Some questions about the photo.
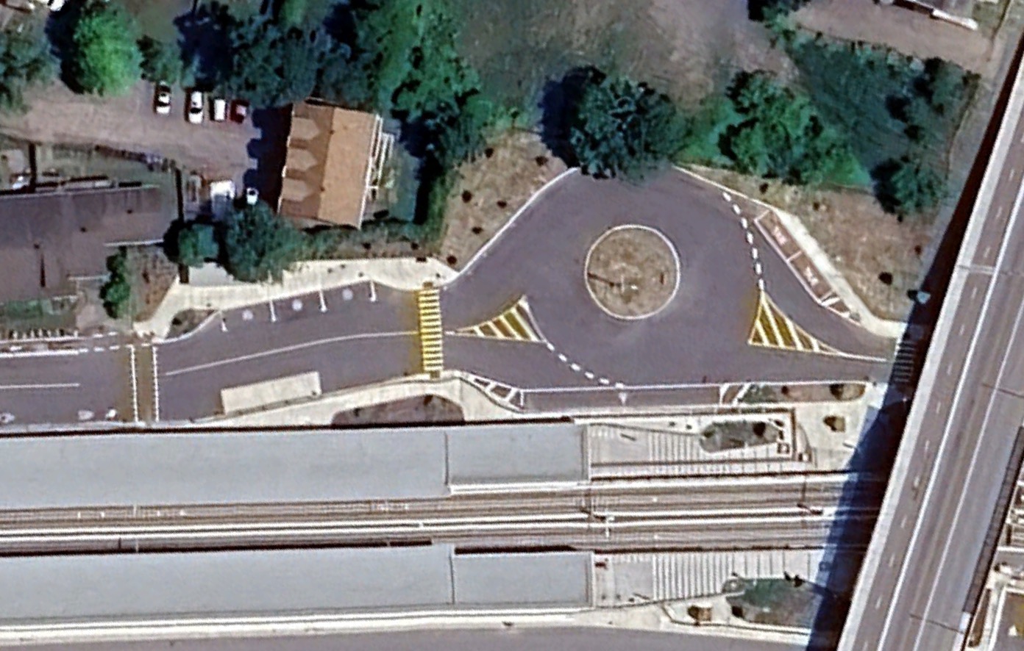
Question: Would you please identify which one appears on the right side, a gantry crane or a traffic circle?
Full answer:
Looking on the right side, you will find a traffic circle.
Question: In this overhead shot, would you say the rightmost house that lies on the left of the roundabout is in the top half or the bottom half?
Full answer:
It is in the top half that the rightmost house that lies on the left of the roundabout appears.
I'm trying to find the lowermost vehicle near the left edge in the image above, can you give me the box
[8,166,27,189]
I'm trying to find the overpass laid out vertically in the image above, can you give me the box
[838,46,1024,651]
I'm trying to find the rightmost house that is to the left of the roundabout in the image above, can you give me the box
[277,102,377,229]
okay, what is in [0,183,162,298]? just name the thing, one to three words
building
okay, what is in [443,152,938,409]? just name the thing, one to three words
roundabout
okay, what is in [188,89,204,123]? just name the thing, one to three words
car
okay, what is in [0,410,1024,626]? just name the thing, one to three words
train station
